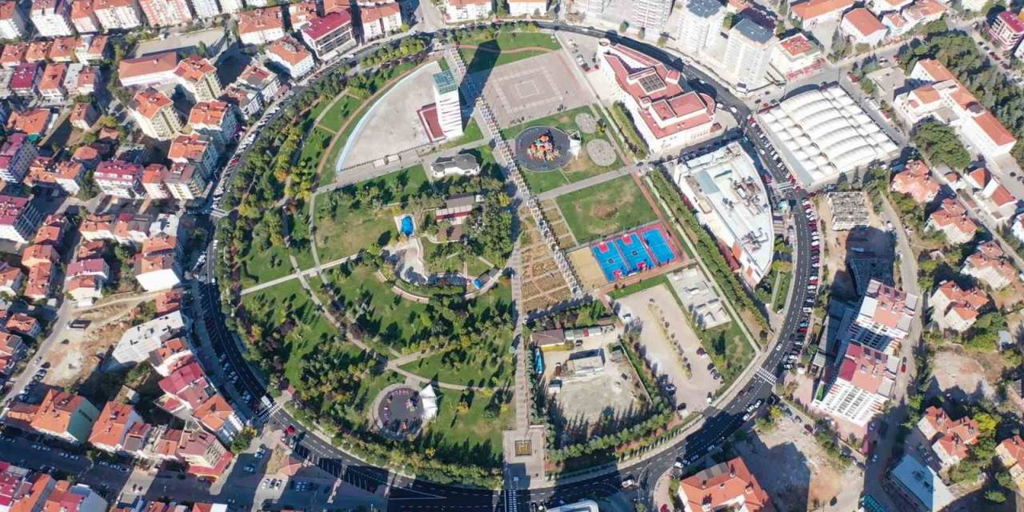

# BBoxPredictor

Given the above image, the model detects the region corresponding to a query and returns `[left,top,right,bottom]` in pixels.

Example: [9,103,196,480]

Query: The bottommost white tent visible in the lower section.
[419,383,437,417]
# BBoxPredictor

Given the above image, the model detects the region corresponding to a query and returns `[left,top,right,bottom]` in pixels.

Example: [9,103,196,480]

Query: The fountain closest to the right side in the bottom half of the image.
[514,439,534,456]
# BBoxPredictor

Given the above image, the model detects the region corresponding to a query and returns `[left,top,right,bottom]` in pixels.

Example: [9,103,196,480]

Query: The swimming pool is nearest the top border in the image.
[400,214,414,237]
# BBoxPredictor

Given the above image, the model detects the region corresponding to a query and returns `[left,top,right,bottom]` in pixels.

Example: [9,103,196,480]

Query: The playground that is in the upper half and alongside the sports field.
[514,125,571,172]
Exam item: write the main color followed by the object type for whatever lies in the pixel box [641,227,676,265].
blue tennis court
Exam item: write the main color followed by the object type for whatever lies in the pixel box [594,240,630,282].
blue basketball court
